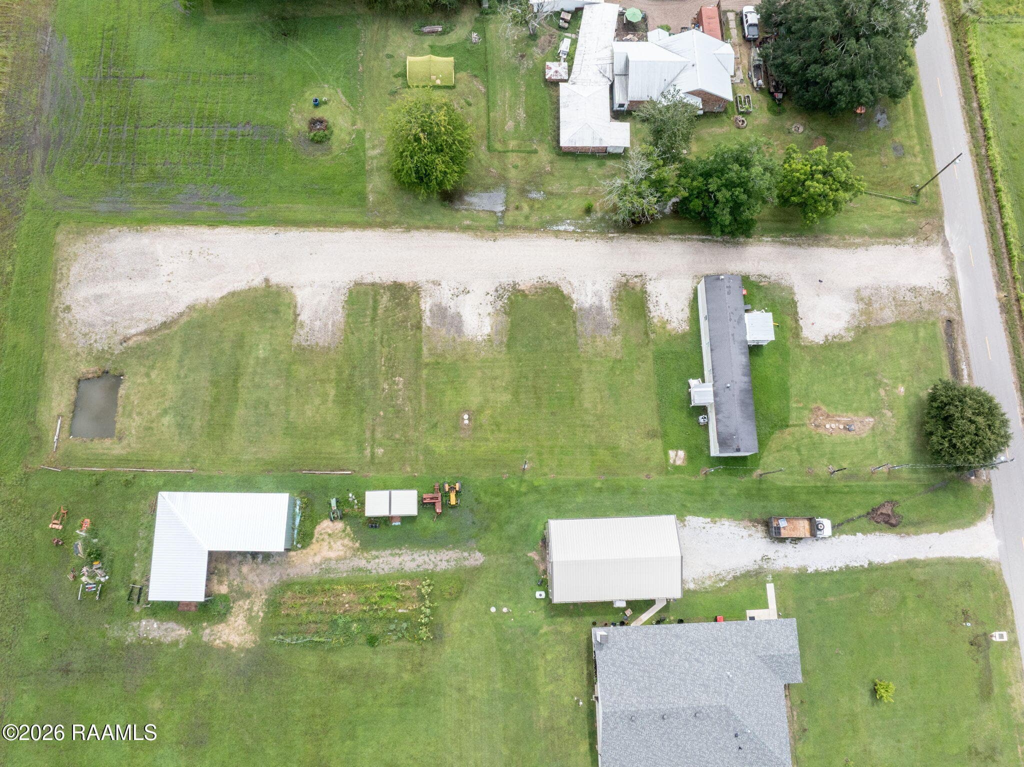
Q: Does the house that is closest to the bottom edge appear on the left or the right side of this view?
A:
right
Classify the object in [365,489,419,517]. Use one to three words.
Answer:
shed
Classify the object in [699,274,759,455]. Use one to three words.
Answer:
house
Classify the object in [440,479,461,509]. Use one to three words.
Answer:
work vehicle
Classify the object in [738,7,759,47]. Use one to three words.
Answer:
truck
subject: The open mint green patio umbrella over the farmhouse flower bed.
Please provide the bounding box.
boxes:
[624,7,642,28]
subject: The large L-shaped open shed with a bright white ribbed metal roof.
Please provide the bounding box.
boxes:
[149,490,291,601]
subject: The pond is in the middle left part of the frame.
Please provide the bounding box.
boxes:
[70,373,124,441]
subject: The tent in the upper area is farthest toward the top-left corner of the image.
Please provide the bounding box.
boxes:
[407,55,456,95]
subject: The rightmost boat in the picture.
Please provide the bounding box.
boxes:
[748,46,763,84]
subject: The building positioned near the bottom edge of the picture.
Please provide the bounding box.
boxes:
[591,618,804,767]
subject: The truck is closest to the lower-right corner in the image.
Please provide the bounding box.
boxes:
[770,515,841,538]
